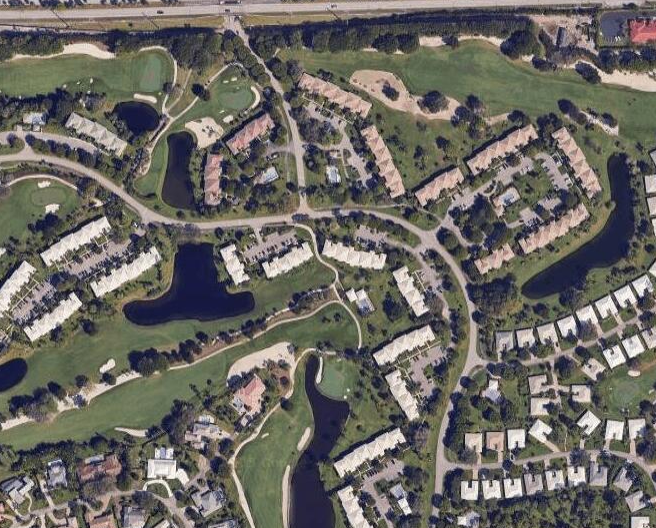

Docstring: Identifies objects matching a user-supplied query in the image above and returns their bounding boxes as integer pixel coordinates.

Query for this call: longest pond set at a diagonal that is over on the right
[521,151,635,299]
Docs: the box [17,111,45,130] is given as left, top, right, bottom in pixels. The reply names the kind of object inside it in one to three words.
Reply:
house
